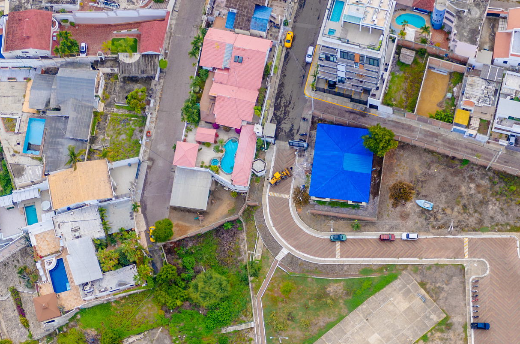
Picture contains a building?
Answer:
Yes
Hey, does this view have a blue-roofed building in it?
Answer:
Yes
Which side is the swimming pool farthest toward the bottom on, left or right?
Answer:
left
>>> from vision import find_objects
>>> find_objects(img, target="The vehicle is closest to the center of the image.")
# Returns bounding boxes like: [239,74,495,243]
[266,166,292,183]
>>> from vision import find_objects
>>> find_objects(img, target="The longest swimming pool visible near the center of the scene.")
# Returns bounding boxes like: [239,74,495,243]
[218,136,239,175]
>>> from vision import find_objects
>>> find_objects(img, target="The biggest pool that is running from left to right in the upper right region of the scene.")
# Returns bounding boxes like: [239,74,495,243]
[394,12,427,29]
